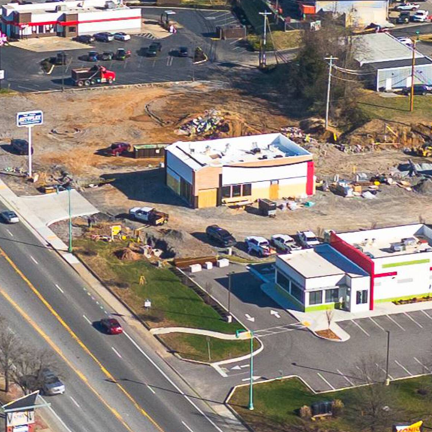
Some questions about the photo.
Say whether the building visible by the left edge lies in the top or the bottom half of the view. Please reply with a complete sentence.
You can find the building visible by the left edge in the top half.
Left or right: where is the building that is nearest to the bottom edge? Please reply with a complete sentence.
The building that is nearest to the bottom edge sits on the right side.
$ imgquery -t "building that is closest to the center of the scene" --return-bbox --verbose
[161,132,315,208]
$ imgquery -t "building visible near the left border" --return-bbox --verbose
[2,0,140,40]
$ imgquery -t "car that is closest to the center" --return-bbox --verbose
[208,222,234,242]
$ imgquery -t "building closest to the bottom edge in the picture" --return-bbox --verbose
[273,224,432,311]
